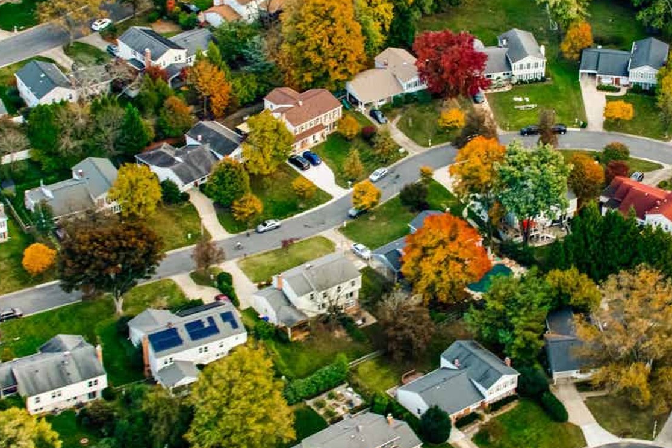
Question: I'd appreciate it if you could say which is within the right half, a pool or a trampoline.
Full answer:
Looking within the right half, you will find a pool.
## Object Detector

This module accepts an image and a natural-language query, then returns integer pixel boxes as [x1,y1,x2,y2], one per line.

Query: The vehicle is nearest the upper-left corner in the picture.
[88,17,114,32]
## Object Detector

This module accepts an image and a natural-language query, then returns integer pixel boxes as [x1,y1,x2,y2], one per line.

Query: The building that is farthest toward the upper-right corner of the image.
[579,26,663,94]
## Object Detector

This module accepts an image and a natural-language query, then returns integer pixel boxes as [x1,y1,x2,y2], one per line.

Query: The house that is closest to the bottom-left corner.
[0,320,107,420]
